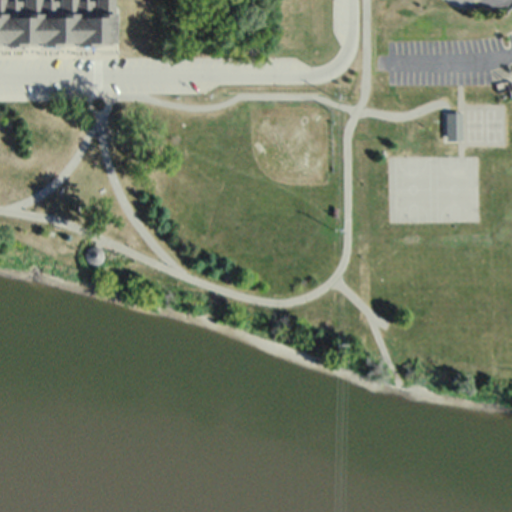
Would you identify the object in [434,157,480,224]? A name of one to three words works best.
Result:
basketball court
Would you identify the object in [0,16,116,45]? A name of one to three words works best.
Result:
building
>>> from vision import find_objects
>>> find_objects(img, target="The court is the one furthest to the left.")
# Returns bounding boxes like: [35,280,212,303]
[389,157,434,224]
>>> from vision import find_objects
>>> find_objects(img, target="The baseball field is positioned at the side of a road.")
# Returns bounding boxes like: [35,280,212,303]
[252,103,330,187]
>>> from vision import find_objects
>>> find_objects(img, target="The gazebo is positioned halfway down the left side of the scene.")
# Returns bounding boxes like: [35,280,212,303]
[86,246,106,266]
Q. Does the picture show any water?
Yes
